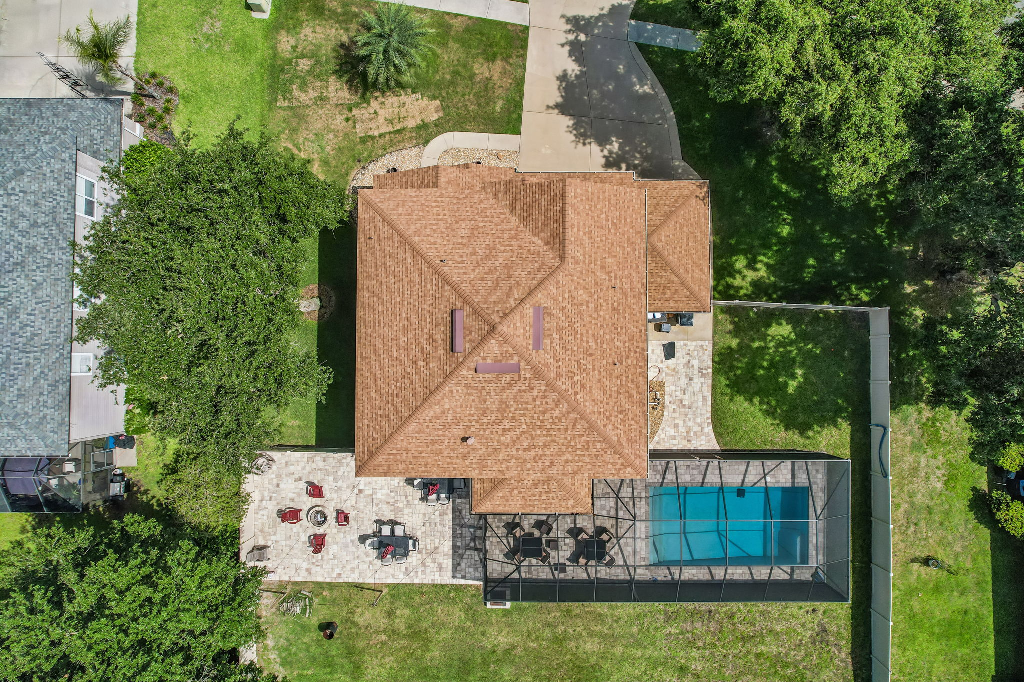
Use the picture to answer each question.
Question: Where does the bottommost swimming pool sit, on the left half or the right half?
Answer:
right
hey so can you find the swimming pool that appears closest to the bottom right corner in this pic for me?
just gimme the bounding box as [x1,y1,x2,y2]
[646,483,815,570]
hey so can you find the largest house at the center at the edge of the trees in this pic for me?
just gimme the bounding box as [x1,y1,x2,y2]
[352,163,715,518]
